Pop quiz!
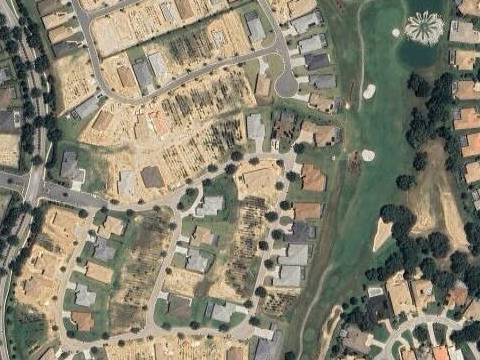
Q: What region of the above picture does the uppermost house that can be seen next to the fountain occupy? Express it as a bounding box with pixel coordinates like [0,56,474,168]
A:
[451,0,480,14]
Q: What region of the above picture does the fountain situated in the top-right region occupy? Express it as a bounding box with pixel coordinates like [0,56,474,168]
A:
[403,4,446,49]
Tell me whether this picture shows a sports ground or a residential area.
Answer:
residential area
